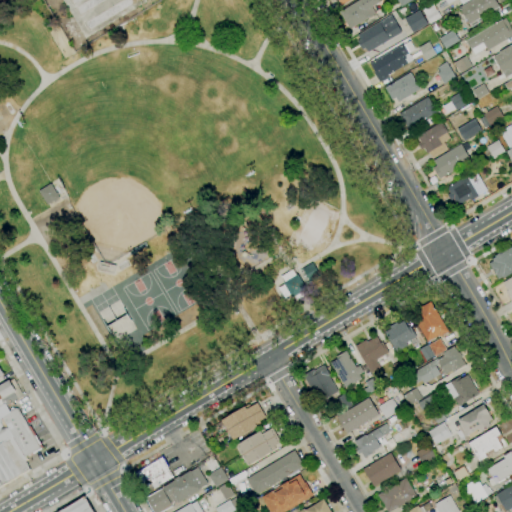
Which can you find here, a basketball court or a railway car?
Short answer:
basketball court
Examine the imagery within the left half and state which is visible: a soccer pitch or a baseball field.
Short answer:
baseball field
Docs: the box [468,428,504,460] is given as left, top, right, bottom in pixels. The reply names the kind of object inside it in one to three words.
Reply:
house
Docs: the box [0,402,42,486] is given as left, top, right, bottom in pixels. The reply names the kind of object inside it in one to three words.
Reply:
building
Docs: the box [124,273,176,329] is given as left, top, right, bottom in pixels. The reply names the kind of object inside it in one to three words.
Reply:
basketball court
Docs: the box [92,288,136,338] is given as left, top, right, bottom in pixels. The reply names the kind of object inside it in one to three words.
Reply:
sports court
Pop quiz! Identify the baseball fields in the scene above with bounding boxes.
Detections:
[76,175,162,260]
